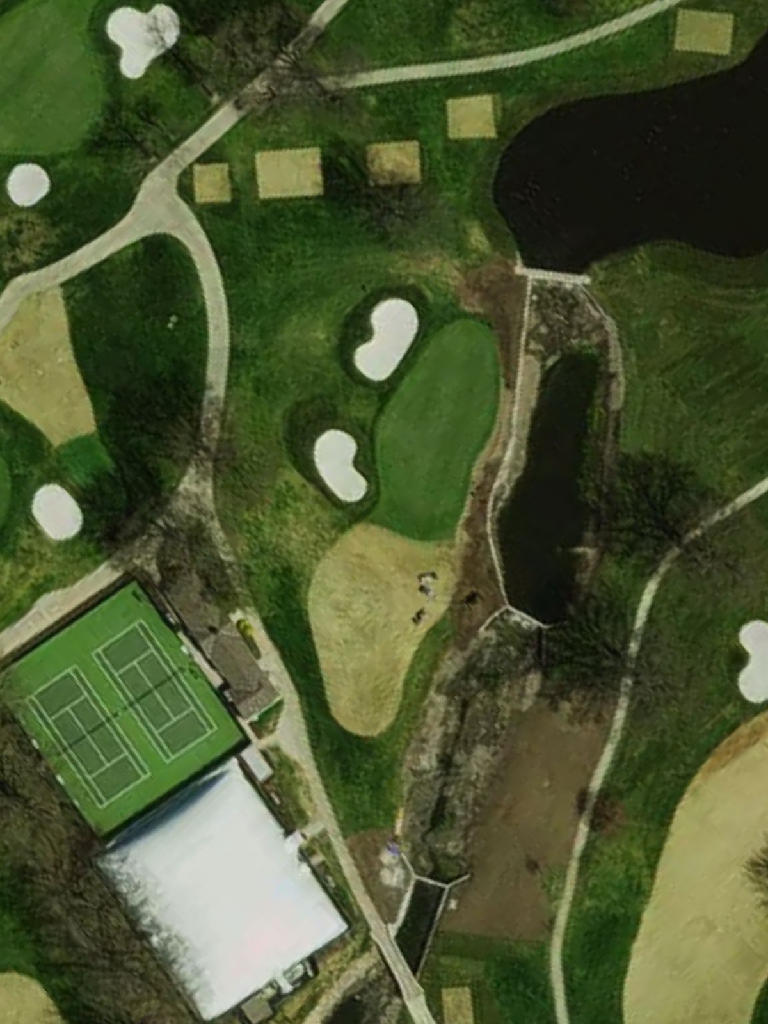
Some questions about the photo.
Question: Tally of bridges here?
1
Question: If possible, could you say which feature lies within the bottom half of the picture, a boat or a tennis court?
tennis court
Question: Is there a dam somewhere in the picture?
Yes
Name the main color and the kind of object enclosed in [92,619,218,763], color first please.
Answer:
green tennis court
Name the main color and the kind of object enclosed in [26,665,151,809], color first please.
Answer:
green tennis court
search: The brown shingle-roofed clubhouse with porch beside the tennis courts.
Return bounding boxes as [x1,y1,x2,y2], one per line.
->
[173,584,282,720]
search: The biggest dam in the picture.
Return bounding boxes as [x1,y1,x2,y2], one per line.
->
[390,853,470,975]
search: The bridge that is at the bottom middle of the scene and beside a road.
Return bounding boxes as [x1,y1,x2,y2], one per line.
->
[371,926,424,1001]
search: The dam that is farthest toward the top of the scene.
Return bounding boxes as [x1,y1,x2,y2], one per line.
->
[514,252,595,285]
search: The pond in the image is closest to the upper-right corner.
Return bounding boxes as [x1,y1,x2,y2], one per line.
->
[492,35,768,276]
